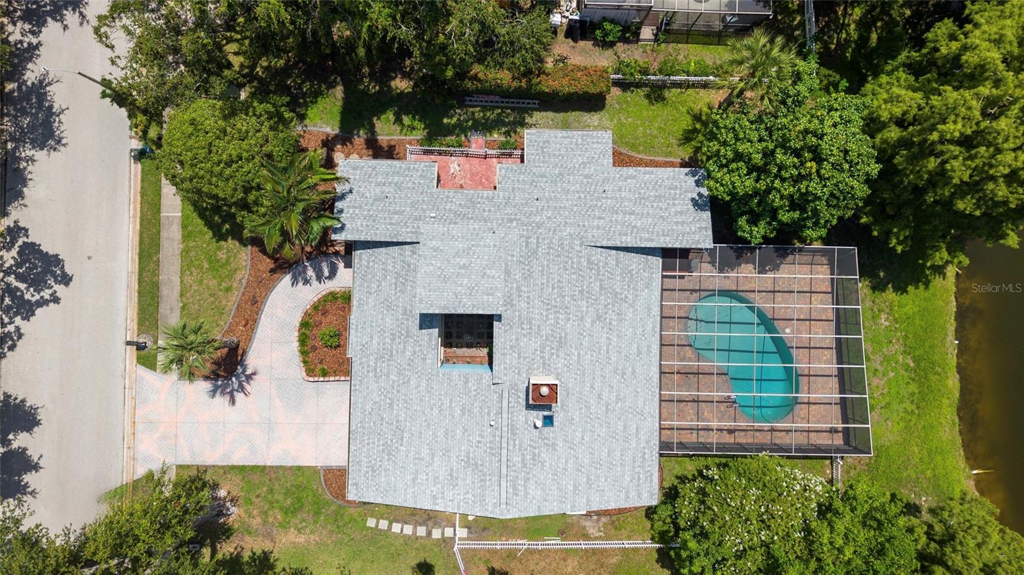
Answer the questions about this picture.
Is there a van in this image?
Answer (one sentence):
No, no van can be seen from above.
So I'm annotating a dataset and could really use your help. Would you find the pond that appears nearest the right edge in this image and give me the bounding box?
[954,157,1024,533]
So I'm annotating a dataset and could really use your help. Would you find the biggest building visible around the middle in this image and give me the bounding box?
[332,130,713,517]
